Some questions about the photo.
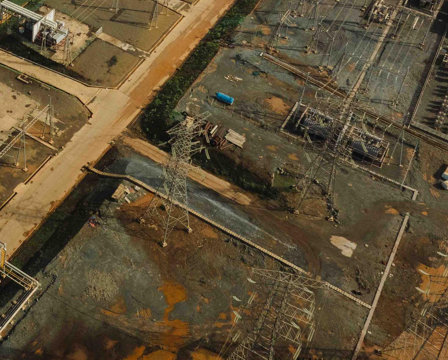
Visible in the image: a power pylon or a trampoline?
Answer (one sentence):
Of the two, only a power pylon appears.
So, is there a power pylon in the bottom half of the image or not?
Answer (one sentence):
Yes, a power pylon shows up in the bottom half of the image.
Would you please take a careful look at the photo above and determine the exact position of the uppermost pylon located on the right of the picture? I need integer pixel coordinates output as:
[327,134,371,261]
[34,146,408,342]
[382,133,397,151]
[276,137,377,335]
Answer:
[290,95,380,218]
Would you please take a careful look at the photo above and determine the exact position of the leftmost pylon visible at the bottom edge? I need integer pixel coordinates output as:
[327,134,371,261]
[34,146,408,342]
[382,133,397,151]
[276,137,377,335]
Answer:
[220,260,336,360]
